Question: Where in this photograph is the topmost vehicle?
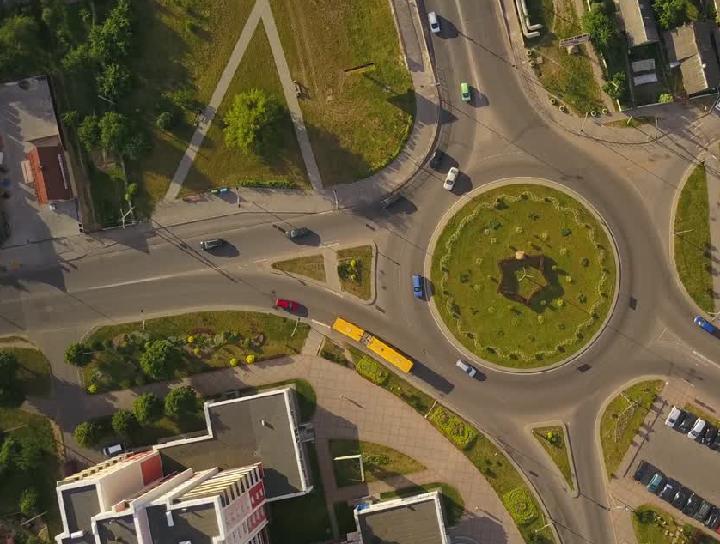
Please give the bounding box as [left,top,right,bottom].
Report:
[427,10,441,35]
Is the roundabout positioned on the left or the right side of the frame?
right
